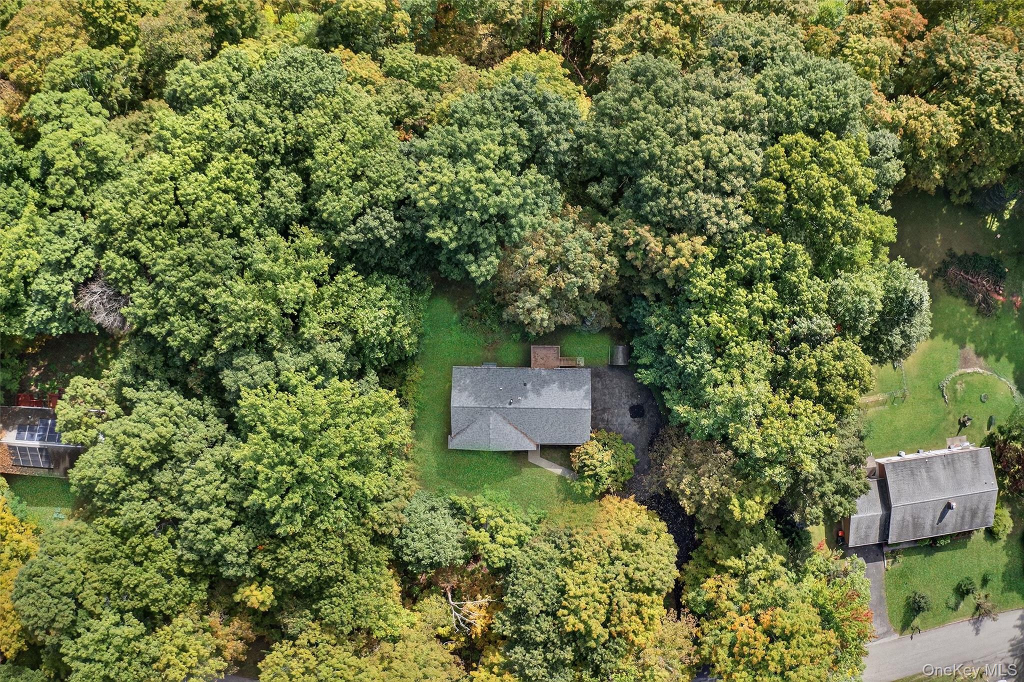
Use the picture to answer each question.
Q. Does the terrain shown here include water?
No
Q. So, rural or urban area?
rural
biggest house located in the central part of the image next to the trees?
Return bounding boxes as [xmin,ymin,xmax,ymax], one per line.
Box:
[448,363,592,452]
